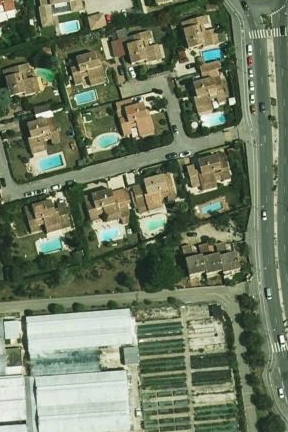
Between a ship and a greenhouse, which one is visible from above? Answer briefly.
greenhouse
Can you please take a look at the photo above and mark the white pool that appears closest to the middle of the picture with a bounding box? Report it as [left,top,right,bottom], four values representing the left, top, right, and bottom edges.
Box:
[140,214,166,234]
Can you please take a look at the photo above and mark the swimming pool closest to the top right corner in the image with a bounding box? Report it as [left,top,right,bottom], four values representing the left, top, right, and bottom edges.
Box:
[200,48,222,64]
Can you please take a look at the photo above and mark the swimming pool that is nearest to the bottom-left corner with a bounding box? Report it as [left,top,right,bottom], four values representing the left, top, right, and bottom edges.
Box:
[35,232,63,256]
